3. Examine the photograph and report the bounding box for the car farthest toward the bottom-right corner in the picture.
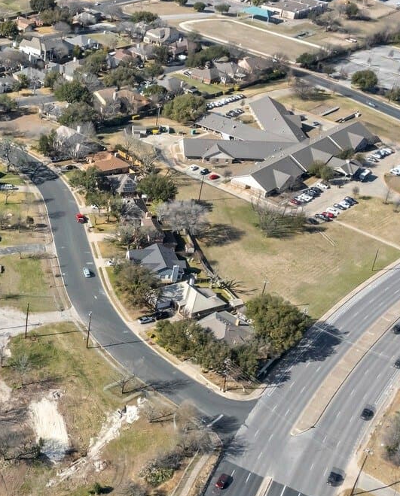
[326,468,342,488]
